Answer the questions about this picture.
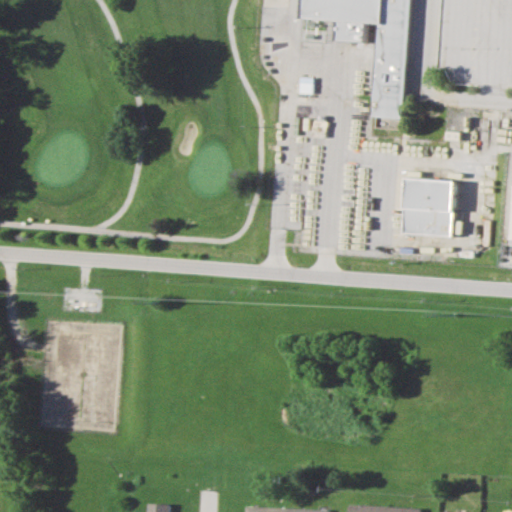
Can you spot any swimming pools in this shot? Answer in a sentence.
No, the scene contains no swimming pool.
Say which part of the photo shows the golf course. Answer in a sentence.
The golf course appears toward the top left of the photo.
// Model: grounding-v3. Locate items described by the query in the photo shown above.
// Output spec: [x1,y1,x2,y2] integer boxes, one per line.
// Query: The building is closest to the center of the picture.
[311,118,330,138]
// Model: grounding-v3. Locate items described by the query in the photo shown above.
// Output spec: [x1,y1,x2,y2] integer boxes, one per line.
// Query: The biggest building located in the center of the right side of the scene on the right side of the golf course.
[401,180,454,237]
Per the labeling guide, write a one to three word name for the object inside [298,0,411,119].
building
